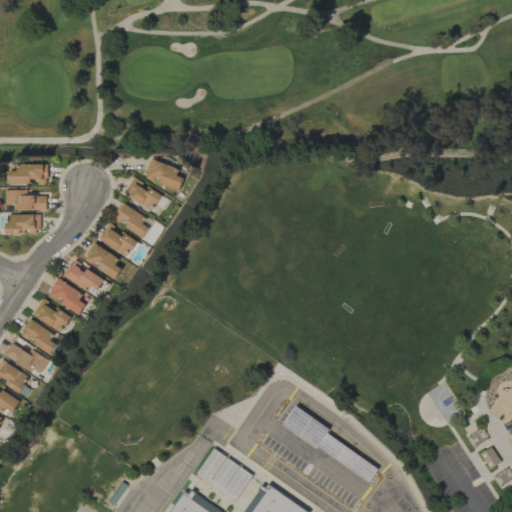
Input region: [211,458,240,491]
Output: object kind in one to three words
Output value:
building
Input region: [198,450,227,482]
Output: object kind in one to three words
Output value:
building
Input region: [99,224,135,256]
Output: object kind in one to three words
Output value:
house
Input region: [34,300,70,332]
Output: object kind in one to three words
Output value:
house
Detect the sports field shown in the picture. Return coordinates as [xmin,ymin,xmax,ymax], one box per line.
[22,165,512,512]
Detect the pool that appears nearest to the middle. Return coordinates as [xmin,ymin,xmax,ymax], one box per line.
[136,244,148,262]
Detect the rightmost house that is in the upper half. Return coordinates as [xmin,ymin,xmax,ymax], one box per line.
[146,158,186,190]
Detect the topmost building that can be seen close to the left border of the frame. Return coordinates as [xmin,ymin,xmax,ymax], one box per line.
[6,164,48,185]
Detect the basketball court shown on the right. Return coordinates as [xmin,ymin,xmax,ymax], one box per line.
[420,384,462,426]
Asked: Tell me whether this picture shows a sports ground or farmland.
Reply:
sports ground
